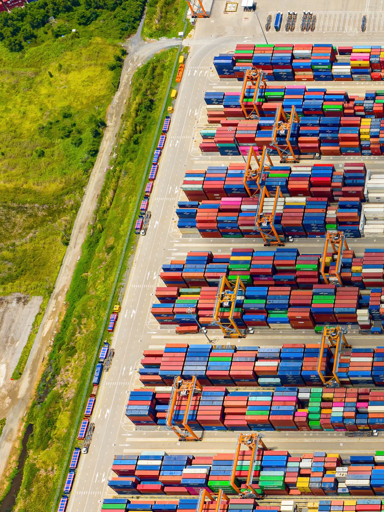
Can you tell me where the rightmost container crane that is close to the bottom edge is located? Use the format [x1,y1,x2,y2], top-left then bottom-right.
[230,433,274,502]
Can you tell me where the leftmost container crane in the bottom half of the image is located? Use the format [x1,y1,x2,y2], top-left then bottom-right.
[161,376,202,442]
